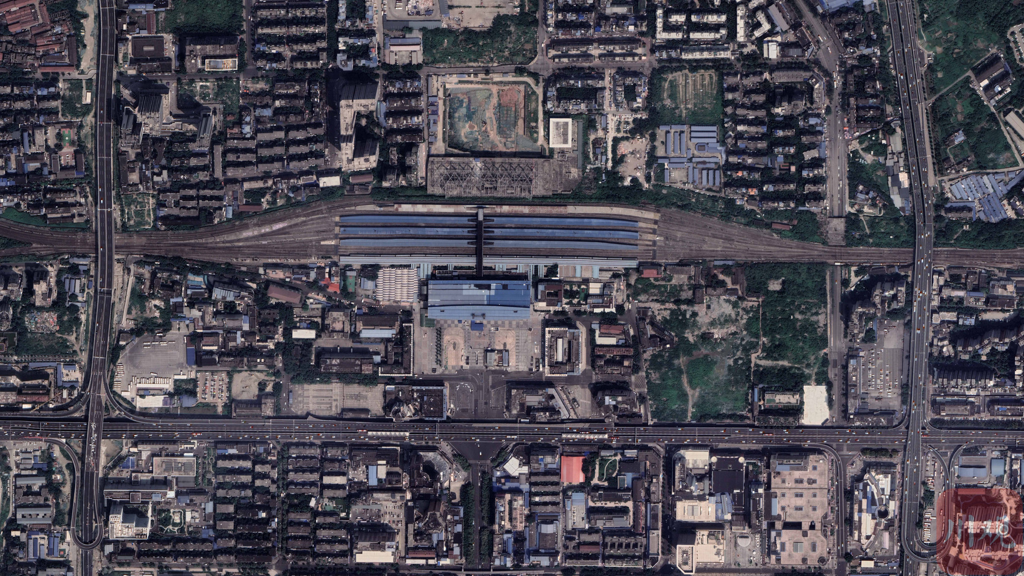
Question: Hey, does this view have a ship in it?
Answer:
No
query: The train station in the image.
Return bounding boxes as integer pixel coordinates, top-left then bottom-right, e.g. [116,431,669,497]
[428,278,531,320]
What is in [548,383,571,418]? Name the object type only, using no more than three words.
building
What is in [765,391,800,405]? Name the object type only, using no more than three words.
building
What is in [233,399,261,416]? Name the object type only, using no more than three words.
shed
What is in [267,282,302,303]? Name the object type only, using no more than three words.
shed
